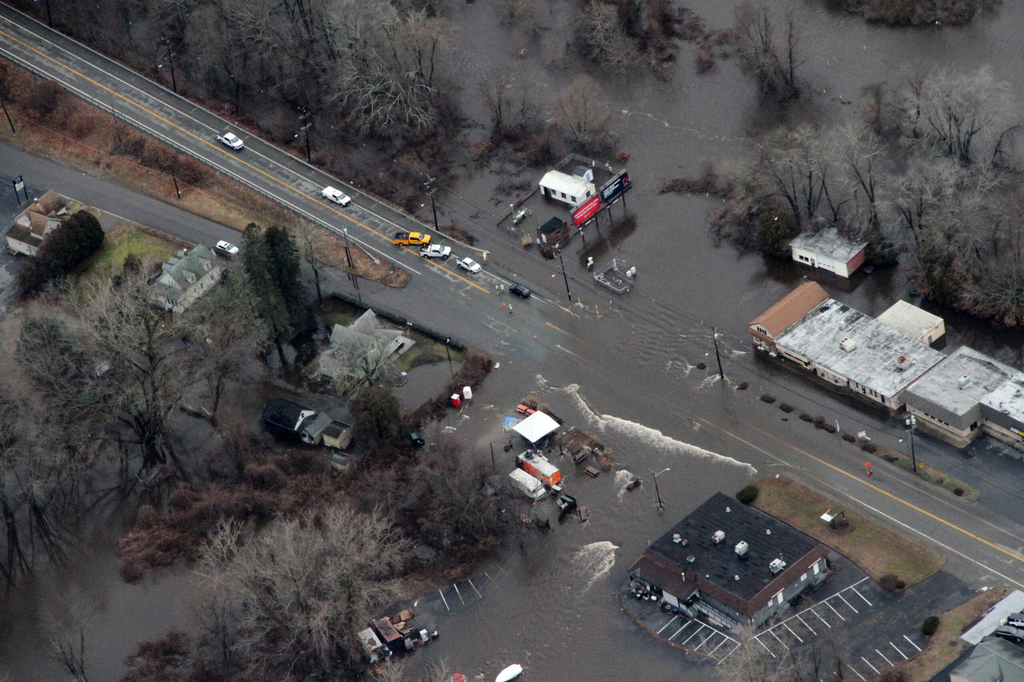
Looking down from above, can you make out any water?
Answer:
Yes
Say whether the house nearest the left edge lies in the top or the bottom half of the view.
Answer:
top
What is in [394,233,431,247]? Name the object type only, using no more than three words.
vehicle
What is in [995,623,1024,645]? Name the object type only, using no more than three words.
car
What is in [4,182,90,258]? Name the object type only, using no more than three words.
house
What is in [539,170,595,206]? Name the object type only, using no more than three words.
building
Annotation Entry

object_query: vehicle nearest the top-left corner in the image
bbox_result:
[215,132,243,150]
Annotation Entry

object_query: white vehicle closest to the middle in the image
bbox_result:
[453,255,481,274]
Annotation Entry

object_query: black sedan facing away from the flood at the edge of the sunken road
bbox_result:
[506,283,532,299]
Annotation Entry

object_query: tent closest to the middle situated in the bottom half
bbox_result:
[513,412,561,453]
